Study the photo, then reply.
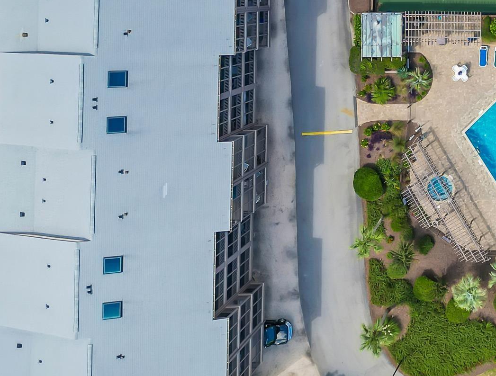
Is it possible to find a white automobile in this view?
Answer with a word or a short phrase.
No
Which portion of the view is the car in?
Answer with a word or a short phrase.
bottom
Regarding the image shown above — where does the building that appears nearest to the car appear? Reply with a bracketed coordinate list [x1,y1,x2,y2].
[0,0,275,376]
